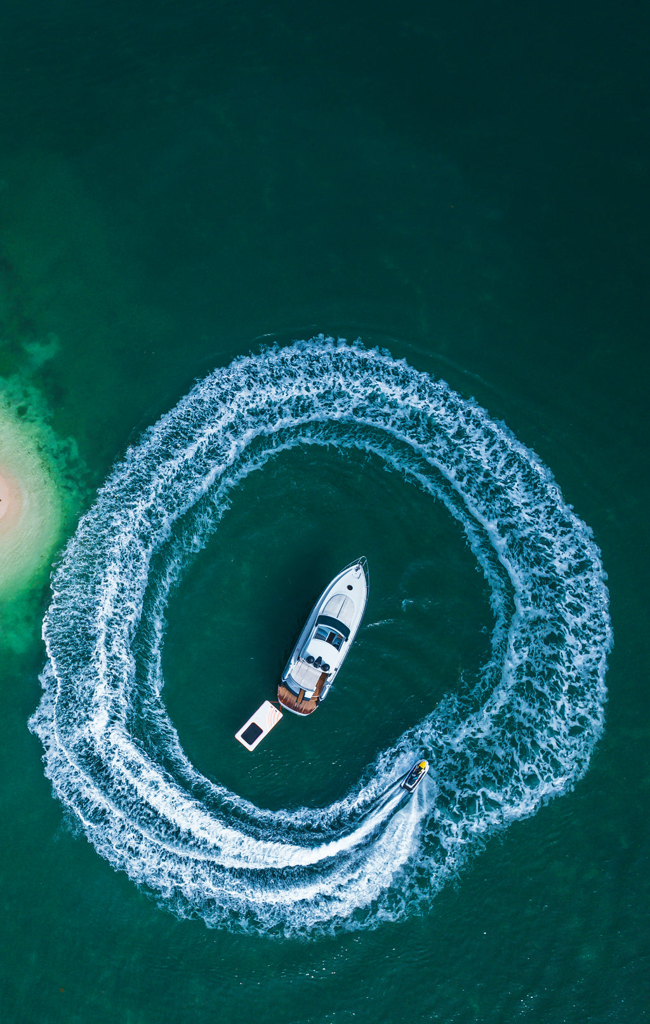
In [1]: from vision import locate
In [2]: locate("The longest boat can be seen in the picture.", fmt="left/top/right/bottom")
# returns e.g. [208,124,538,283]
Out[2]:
[277,557,371,714]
